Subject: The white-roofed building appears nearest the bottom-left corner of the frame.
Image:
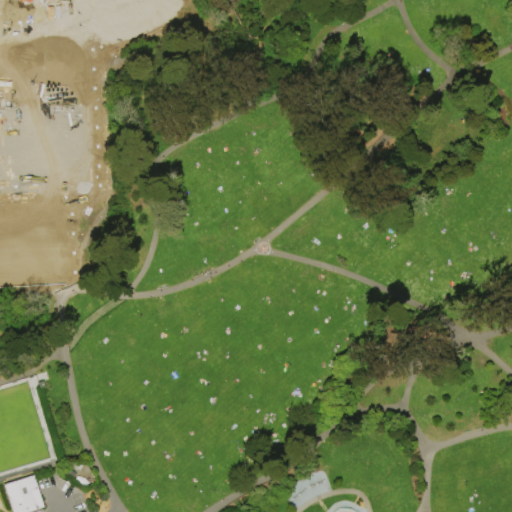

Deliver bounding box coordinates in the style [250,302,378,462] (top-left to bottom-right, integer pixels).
[5,475,46,512]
